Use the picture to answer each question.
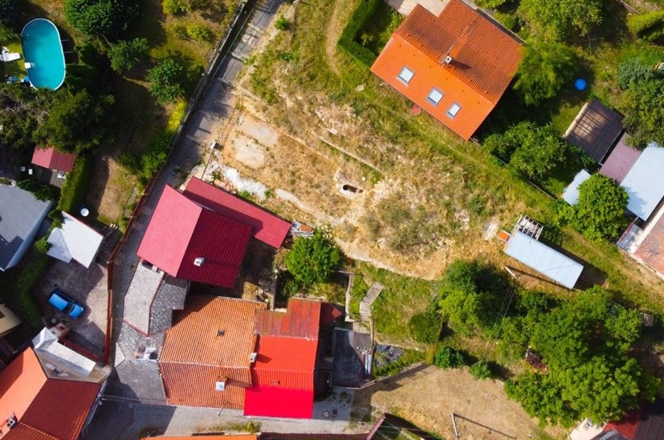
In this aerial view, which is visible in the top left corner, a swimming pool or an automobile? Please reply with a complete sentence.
It is a swimming pool that can be seen in the top left corner.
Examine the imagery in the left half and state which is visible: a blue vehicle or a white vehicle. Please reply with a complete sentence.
The feature located in the left half is a blue vehicle.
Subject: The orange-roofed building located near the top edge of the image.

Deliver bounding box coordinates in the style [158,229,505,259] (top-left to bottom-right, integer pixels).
[370,0,526,142]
